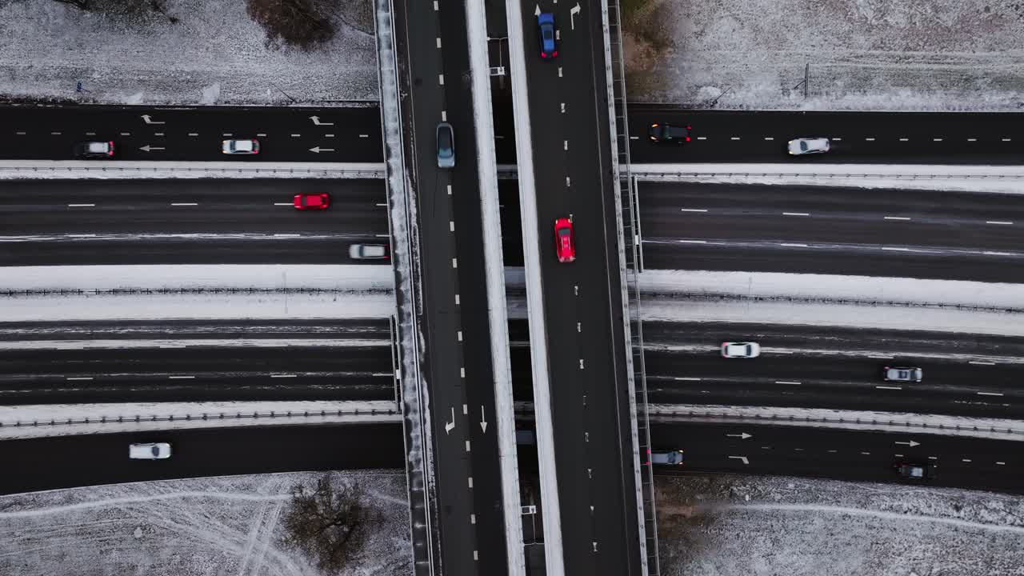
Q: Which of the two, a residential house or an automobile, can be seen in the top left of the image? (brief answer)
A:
automobile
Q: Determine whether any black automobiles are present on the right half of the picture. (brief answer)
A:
Yes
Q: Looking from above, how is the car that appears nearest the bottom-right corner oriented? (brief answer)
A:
horizontally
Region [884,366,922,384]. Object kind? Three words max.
car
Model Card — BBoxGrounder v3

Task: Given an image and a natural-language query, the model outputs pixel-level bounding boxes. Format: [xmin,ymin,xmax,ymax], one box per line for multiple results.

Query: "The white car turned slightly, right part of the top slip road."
[788,136,831,156]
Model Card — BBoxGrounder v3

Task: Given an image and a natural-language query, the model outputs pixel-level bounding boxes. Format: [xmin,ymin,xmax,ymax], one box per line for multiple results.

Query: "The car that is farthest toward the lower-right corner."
[893,462,936,482]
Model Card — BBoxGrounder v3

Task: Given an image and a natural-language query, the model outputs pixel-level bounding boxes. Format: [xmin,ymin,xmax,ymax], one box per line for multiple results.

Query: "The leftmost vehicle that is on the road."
[74,140,114,159]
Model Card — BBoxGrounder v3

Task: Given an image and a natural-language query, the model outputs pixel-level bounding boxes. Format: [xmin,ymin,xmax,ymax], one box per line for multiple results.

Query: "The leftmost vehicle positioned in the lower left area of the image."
[128,442,173,461]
